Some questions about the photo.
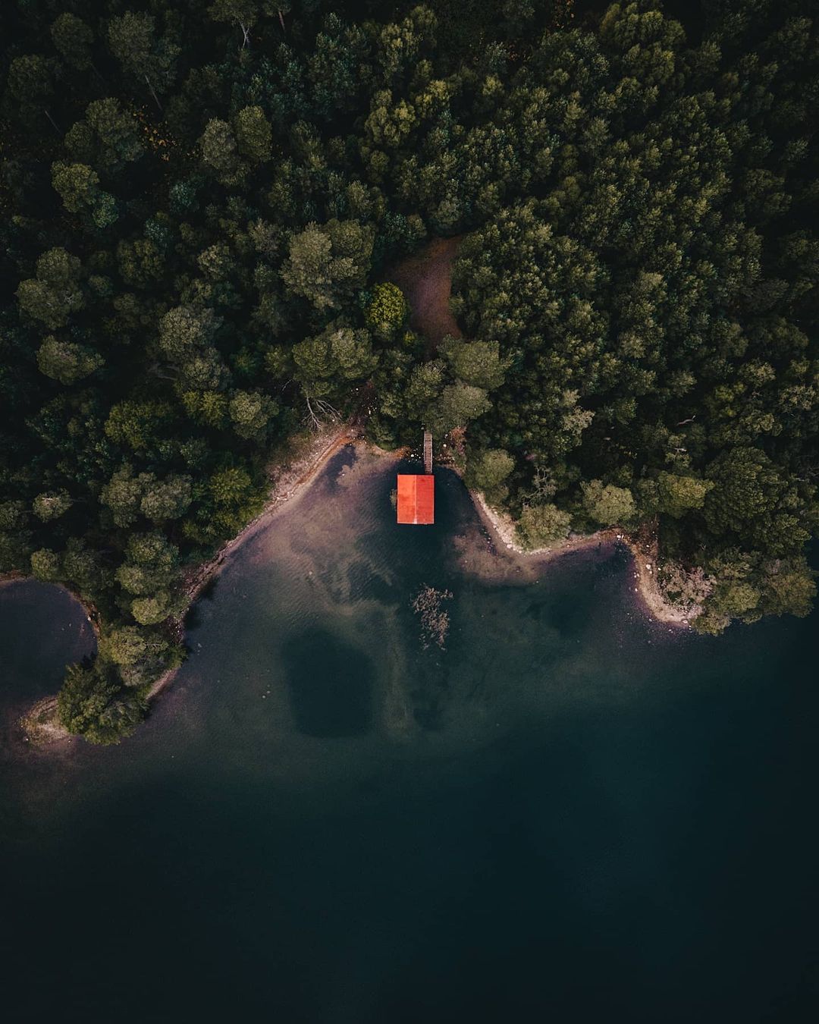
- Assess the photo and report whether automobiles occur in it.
No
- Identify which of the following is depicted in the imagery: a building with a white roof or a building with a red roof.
building with a red roof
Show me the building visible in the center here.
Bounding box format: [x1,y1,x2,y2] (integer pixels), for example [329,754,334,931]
[397,474,434,524]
